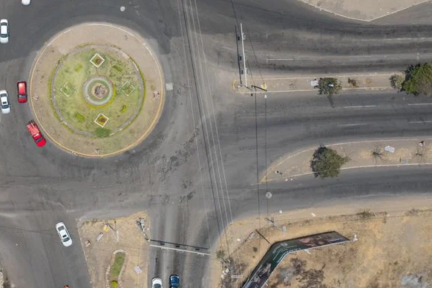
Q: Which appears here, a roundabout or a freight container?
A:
roundabout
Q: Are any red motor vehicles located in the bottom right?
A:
No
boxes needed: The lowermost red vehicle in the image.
[27,119,45,147]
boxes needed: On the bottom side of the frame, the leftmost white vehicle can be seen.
[56,221,72,246]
